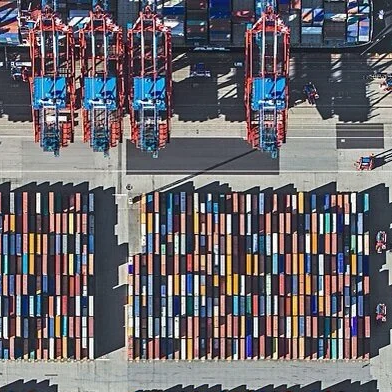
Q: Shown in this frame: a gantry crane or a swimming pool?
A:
gantry crane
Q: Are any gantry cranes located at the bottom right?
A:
No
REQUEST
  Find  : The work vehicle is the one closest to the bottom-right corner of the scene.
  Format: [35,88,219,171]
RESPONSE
[375,303,389,324]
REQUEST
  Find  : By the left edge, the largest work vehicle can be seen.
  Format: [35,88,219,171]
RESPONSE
[13,64,27,89]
